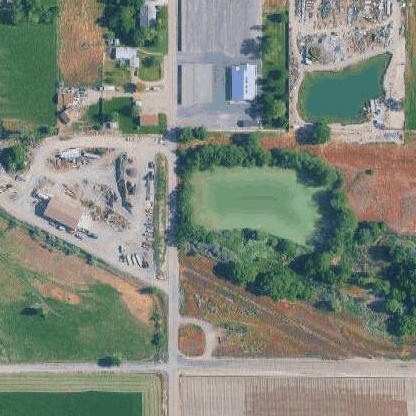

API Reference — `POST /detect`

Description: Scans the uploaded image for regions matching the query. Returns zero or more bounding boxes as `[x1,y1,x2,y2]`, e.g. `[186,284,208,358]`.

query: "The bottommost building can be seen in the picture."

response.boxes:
[44,197,83,230]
